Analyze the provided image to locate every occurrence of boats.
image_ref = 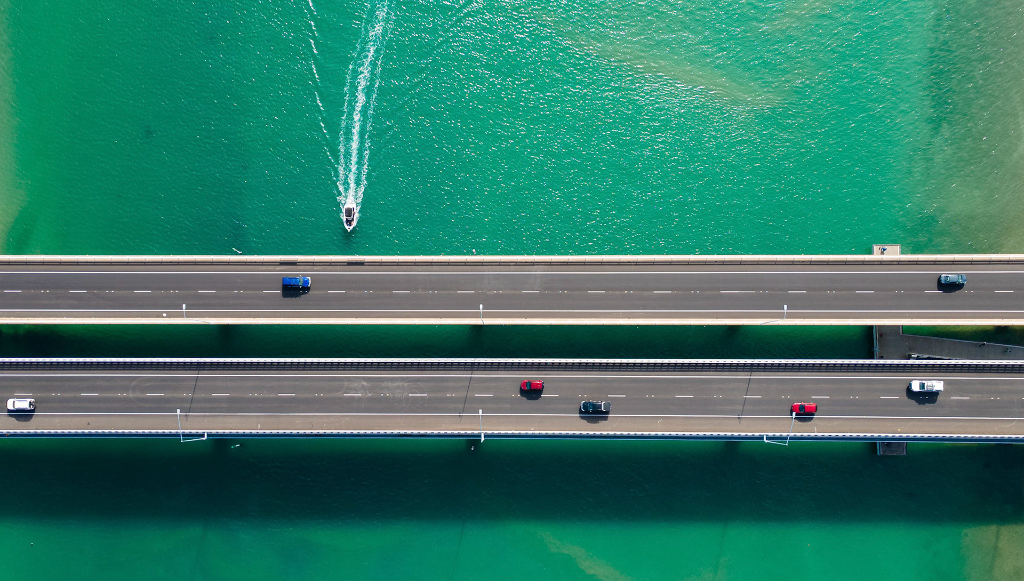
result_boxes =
[343,200,355,233]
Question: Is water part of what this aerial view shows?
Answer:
Yes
